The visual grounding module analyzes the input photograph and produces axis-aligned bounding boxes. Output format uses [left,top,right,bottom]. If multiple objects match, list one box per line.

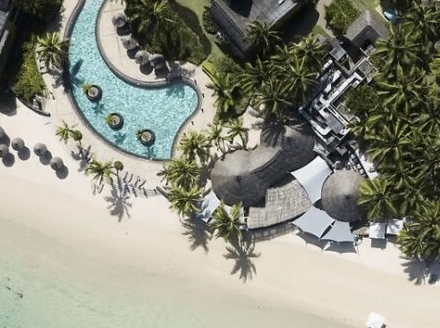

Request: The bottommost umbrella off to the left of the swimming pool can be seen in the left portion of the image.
[51,157,64,171]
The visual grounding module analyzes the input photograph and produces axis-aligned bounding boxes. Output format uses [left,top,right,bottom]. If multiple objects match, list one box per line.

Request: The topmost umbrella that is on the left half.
[113,15,126,28]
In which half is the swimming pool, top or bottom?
top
